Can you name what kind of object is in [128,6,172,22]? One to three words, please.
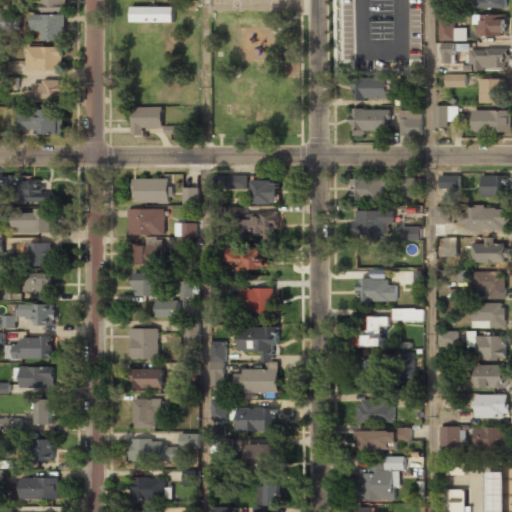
shed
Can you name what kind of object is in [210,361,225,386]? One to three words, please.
building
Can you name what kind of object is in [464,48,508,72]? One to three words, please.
house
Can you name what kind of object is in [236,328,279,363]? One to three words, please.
house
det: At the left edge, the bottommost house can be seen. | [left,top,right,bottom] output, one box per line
[16,478,60,500]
